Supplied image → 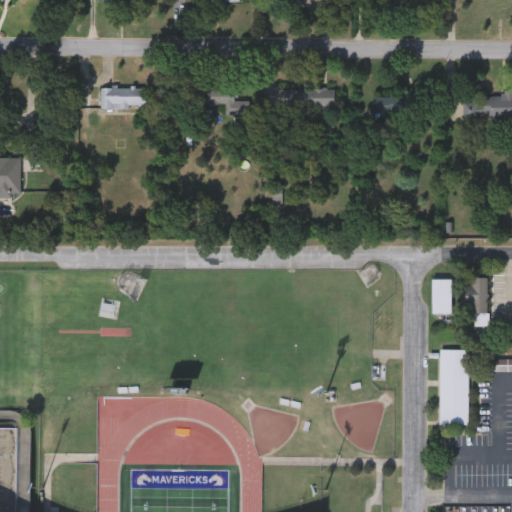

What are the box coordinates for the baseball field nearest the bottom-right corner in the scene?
[333,394,394,453]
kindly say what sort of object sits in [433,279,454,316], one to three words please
building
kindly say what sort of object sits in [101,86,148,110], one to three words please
house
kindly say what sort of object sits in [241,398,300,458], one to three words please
baseball field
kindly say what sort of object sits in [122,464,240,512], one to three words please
sports field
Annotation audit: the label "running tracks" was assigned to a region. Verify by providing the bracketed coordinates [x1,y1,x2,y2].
[100,396,262,512]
